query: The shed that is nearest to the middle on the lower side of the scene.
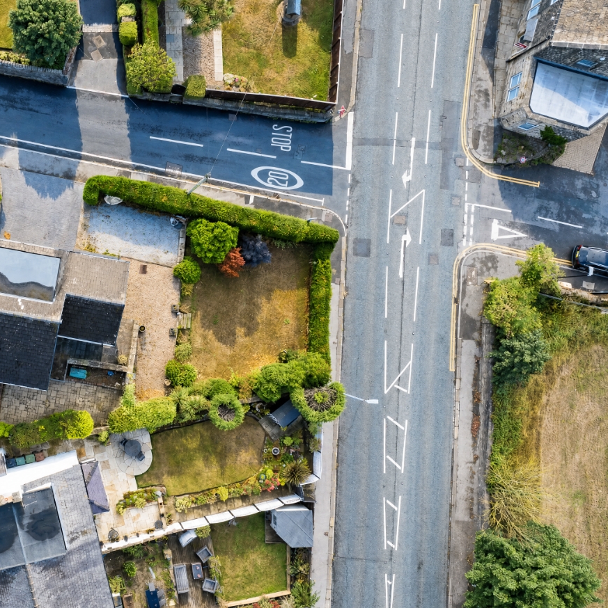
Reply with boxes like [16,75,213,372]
[268,406,300,431]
